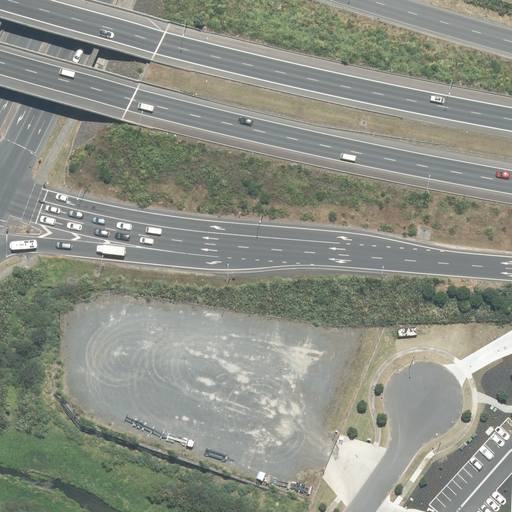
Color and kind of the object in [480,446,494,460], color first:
white car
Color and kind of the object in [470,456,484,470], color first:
white vehicle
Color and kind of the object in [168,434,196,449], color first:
white vehicle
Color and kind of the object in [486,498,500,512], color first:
white car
